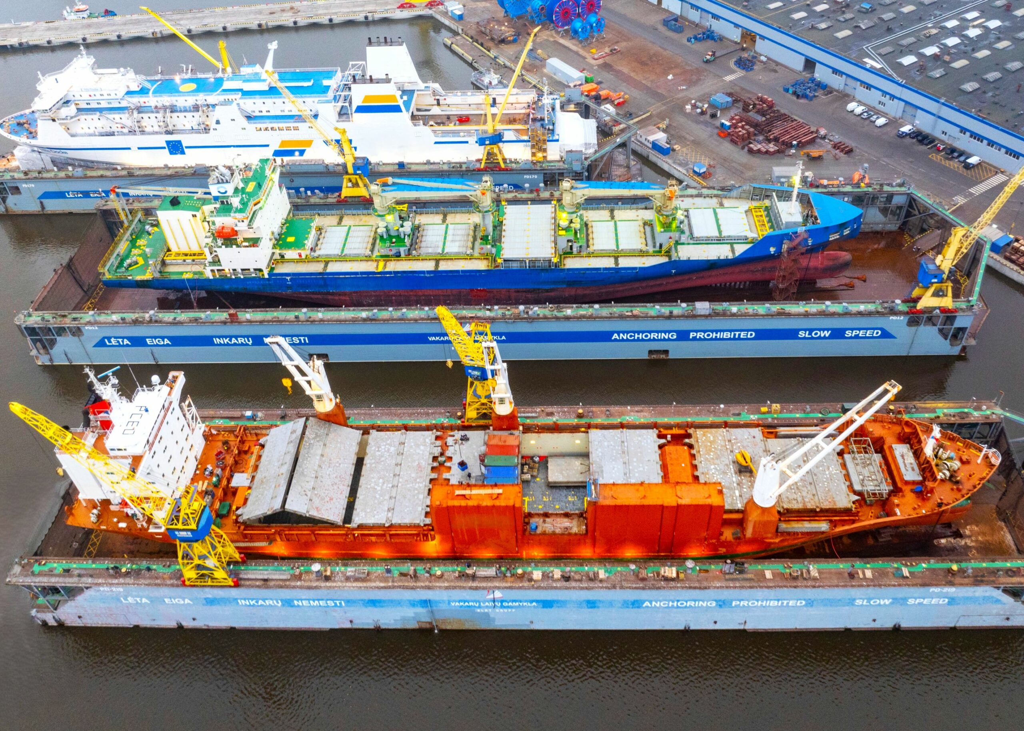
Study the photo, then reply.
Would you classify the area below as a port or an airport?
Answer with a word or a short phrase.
port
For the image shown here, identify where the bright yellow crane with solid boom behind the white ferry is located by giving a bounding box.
[136,4,240,71]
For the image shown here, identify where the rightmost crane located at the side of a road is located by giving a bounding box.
[892,164,1024,319]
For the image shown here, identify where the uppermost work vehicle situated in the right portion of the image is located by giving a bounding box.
[703,46,716,61]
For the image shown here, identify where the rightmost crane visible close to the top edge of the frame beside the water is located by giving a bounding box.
[471,23,542,170]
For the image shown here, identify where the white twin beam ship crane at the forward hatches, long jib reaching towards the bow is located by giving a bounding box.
[736,376,910,540]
